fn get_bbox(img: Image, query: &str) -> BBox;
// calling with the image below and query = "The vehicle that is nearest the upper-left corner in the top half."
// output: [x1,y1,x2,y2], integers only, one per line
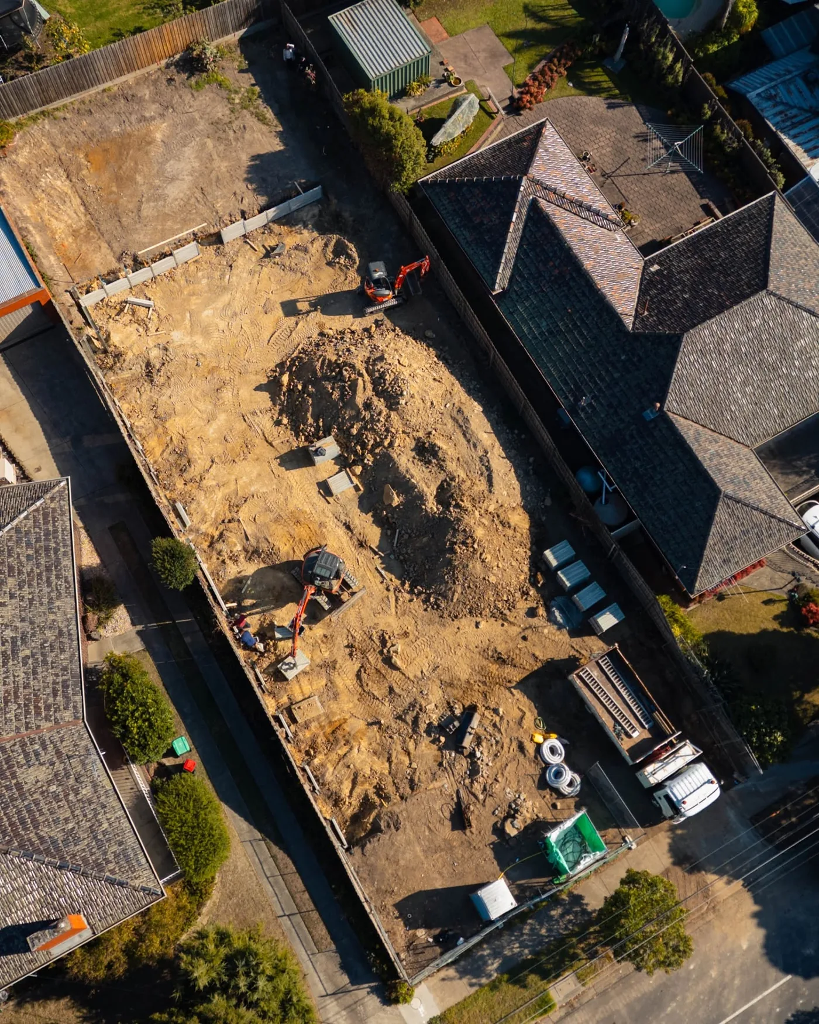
[357,255,433,321]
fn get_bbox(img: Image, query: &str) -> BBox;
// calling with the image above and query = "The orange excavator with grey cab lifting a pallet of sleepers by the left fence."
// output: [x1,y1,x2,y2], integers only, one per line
[287,543,363,663]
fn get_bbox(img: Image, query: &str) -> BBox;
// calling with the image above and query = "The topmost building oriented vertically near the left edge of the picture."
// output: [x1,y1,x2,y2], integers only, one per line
[0,195,64,346]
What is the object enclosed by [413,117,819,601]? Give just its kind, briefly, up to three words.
house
